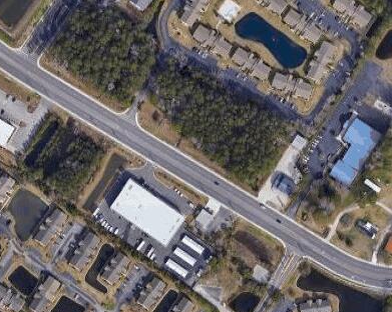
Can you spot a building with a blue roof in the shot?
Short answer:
Yes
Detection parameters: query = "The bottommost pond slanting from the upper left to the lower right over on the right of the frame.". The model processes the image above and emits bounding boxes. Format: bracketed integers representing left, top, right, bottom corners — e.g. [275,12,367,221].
[235,12,306,68]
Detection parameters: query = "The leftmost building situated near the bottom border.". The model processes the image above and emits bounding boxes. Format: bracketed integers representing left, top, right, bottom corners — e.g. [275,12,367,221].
[0,283,27,312]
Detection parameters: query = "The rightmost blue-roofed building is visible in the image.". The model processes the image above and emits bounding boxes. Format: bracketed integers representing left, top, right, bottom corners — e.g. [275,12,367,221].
[330,111,382,186]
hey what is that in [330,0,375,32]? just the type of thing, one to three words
building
